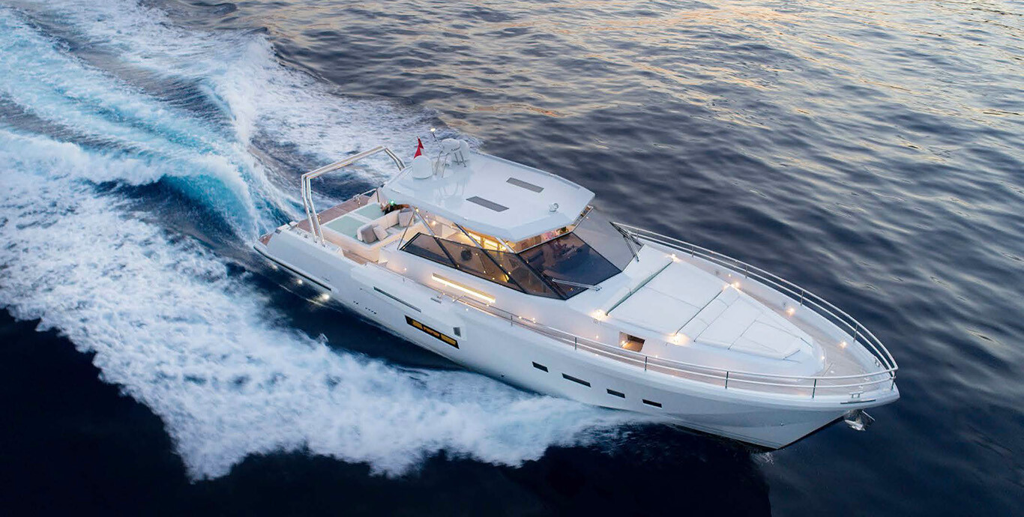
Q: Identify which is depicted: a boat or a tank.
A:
boat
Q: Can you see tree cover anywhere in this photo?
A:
No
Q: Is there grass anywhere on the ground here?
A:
No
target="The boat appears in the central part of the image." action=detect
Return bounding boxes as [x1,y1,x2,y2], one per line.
[256,127,902,453]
